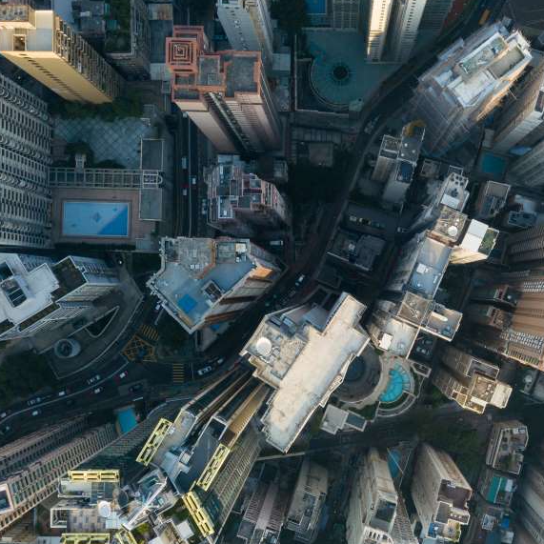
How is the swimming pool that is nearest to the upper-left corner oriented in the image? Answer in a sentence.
In this picture, the swimming pool that is nearest to the upper-left corner is oriented from side to side.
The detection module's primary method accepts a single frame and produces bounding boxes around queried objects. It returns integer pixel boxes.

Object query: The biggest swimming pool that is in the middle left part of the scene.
[63,202,128,236]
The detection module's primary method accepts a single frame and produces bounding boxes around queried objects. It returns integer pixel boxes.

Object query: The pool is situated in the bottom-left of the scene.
[116,409,135,431]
